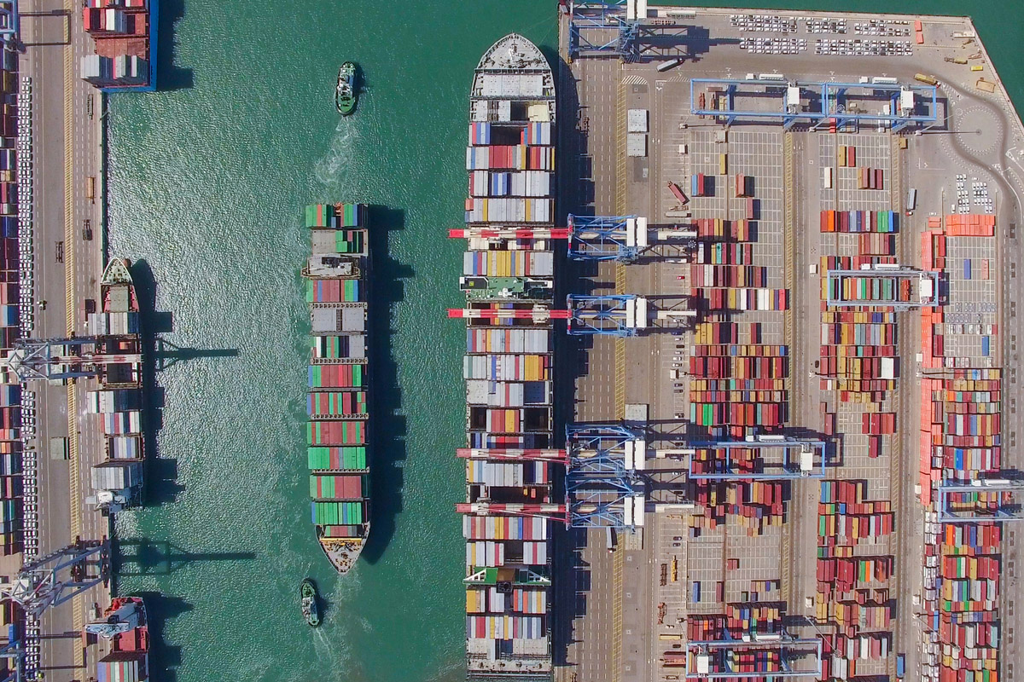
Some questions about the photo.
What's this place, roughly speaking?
port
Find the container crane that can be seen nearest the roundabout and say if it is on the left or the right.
right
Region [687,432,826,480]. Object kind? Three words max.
container crane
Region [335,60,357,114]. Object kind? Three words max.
boat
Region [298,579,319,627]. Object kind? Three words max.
boat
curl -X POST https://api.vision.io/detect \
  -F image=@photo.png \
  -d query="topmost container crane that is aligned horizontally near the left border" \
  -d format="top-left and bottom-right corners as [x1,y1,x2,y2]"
[0,334,145,384]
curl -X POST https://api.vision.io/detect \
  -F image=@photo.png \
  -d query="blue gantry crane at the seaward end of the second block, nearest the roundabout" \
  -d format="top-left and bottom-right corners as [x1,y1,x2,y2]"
[824,77,937,136]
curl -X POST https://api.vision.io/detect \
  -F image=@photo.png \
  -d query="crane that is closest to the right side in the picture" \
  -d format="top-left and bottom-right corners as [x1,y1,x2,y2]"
[926,476,1024,522]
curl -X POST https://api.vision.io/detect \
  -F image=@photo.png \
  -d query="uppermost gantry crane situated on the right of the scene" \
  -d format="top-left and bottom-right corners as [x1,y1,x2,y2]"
[560,0,708,74]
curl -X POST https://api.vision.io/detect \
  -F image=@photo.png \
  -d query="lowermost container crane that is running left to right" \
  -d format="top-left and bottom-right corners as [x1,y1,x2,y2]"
[684,632,822,680]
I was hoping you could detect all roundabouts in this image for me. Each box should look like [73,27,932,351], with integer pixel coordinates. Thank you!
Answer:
[957,109,1003,154]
